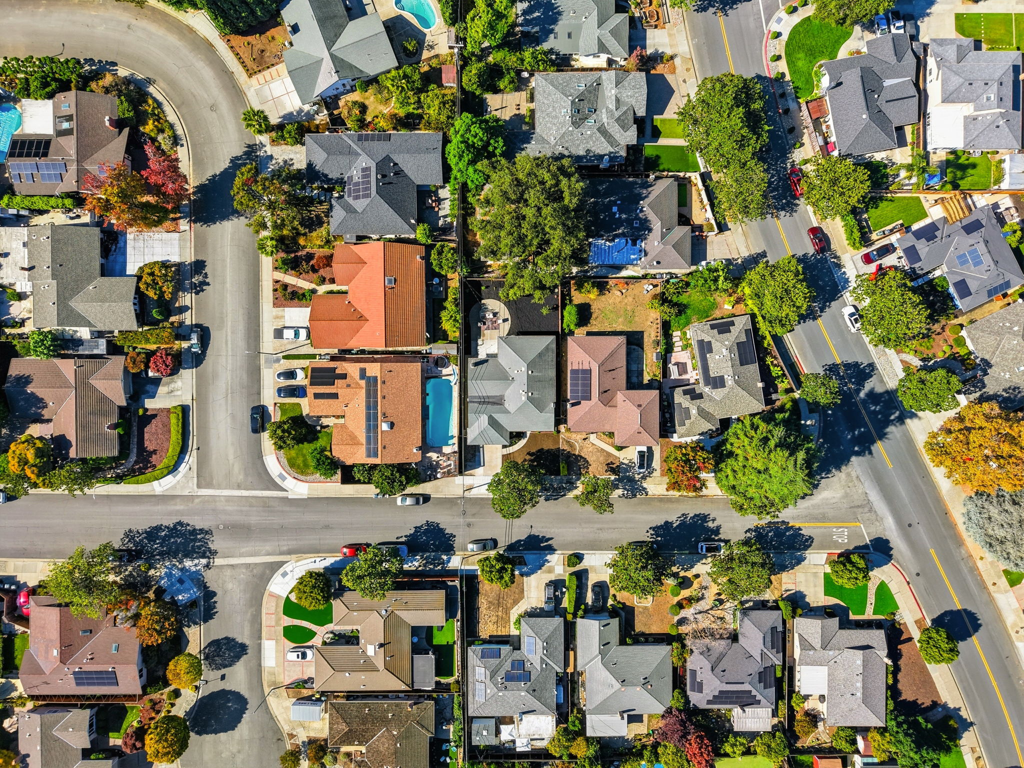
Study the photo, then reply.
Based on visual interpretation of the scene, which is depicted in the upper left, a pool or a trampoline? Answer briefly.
pool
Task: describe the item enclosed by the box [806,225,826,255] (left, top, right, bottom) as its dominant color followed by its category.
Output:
red car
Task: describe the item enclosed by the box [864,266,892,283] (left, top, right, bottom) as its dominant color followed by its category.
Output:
red car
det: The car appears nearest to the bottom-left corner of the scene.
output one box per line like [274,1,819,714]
[17,587,32,614]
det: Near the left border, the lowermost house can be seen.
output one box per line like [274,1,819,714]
[8,704,122,768]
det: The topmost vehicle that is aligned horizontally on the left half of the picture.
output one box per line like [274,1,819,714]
[274,326,309,340]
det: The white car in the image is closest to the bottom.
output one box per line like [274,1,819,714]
[286,646,314,661]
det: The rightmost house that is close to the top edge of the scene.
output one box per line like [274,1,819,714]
[922,38,1024,153]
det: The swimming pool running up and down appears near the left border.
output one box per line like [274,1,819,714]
[0,100,23,154]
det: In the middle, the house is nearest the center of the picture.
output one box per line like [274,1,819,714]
[467,336,555,445]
